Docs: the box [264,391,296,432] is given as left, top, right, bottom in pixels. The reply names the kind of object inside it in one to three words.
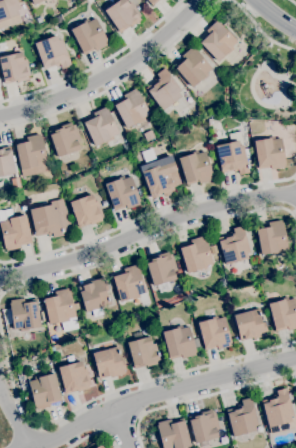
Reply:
house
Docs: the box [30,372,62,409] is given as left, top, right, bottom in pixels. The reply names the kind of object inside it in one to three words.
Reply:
house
